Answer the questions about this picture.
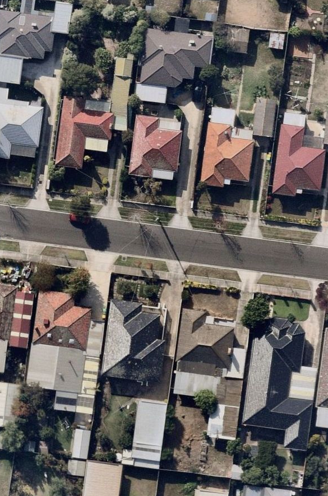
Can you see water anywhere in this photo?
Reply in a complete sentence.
No, there is no water in the image.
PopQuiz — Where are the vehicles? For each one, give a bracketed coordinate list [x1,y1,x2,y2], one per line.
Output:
[69,213,90,224]
[192,80,204,105]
